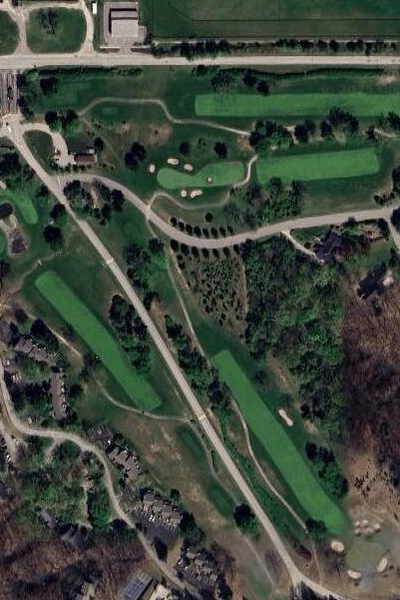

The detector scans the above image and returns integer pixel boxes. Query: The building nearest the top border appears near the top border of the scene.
[110,7,139,37]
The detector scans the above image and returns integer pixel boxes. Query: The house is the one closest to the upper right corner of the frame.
[317,228,352,257]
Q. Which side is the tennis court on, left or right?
left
